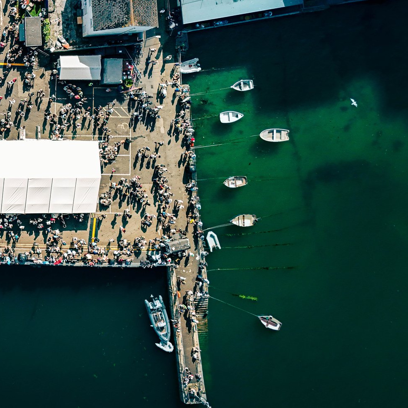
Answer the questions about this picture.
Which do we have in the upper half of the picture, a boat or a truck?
boat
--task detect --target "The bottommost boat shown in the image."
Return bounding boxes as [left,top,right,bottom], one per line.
[153,339,173,354]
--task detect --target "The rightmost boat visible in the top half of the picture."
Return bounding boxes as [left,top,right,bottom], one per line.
[260,128,291,142]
